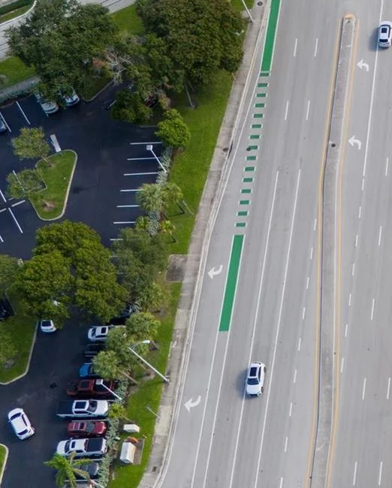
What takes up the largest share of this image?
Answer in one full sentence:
What you mostly see from above here is paved ground.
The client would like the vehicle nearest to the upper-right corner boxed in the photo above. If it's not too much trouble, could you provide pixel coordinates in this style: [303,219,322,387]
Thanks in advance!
[379,22,392,47]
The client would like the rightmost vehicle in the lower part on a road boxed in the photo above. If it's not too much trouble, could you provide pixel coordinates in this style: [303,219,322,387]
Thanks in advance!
[246,364,265,396]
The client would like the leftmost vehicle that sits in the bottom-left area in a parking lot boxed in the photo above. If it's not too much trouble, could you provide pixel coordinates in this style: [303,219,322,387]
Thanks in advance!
[11,408,33,439]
